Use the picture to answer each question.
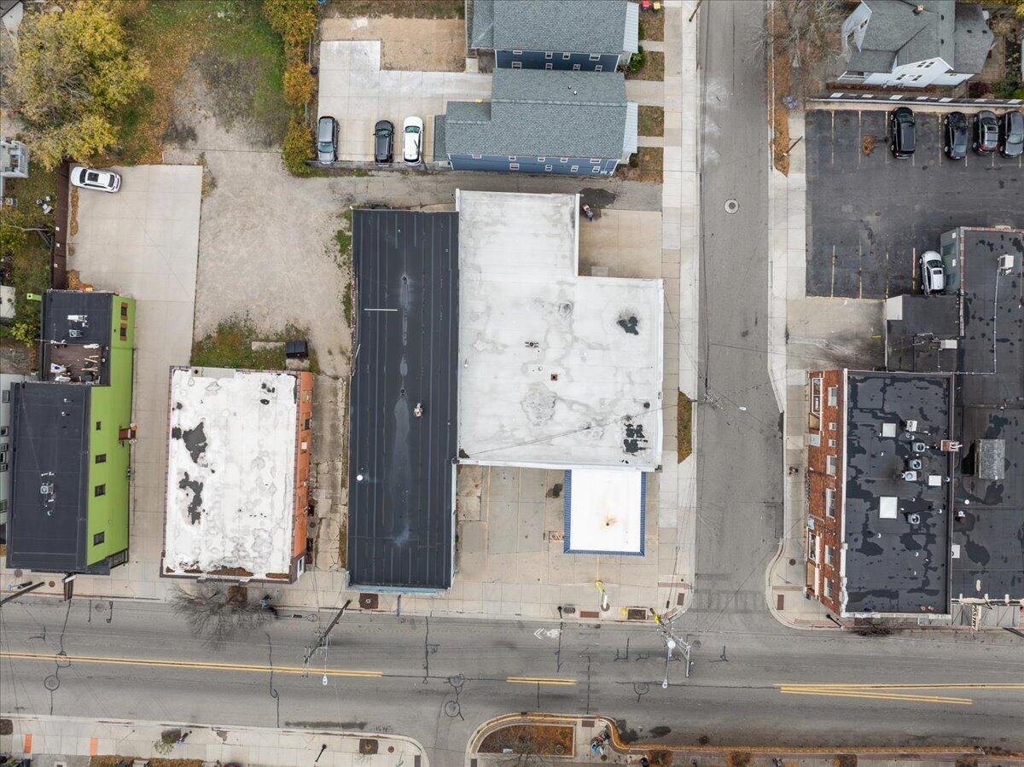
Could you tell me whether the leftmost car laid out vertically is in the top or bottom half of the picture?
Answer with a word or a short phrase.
top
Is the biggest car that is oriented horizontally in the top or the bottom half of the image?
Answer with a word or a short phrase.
top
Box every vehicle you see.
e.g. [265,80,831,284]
[372,118,395,165]
[889,107,917,158]
[315,114,339,165]
[401,117,423,165]
[70,164,121,191]
[971,110,998,157]
[997,109,1024,159]
[942,110,968,160]
[919,251,946,295]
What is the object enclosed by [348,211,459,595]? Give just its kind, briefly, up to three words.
building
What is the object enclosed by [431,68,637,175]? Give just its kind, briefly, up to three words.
house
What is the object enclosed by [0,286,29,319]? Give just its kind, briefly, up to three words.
shed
